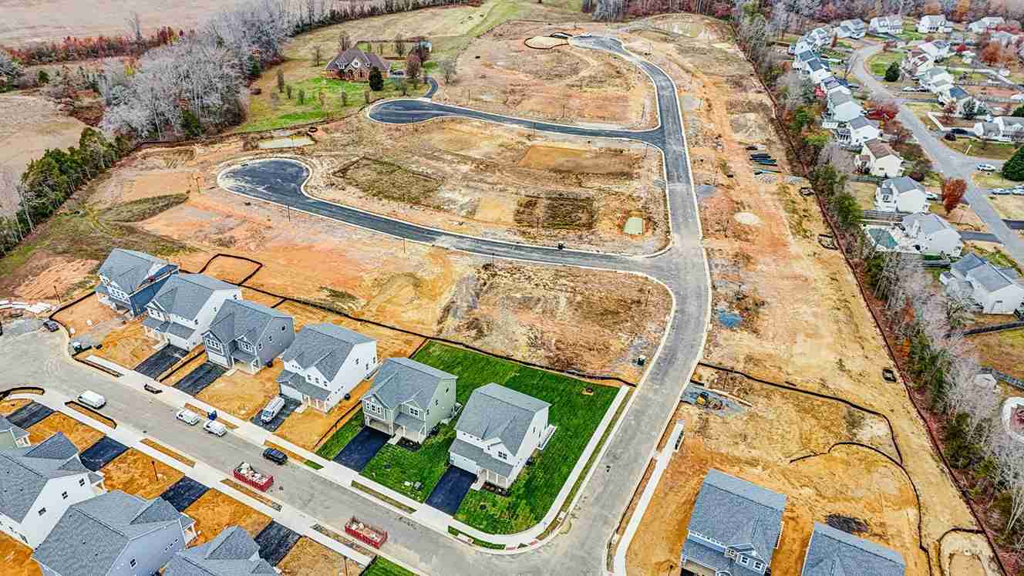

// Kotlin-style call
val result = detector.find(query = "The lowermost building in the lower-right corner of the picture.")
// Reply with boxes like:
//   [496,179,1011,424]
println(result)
[816,525,926,576]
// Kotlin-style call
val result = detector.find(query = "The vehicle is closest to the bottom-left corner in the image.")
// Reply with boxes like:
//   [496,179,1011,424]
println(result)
[75,388,105,409]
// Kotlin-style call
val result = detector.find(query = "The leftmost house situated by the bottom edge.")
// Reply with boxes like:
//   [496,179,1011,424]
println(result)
[0,428,117,557]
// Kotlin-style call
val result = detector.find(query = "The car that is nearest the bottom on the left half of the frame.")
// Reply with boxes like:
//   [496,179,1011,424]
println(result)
[260,448,289,467]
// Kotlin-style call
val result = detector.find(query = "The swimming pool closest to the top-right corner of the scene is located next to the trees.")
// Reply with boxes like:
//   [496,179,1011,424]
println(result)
[863,224,920,251]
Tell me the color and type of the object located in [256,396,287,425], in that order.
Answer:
white van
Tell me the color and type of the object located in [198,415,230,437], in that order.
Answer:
white vehicle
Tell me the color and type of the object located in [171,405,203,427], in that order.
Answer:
white vehicle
